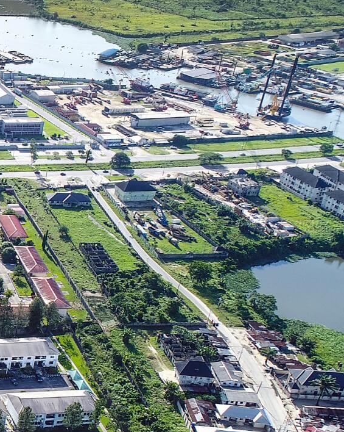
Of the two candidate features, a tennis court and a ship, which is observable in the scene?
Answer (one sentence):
The one in the frame is a ship.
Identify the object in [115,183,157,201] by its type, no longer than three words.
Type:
house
